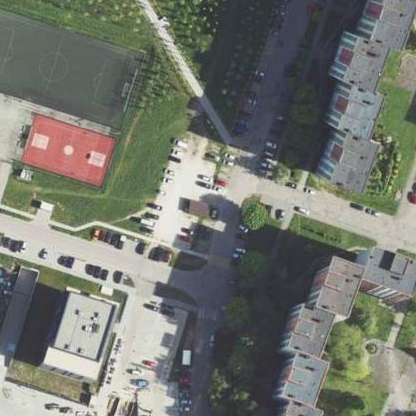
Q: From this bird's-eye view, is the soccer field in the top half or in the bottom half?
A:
top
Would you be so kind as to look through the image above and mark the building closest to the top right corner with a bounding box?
[354,0,416,56]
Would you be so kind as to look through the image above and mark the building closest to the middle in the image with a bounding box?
[187,199,210,218]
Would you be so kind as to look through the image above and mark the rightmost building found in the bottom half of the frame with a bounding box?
[353,247,416,300]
